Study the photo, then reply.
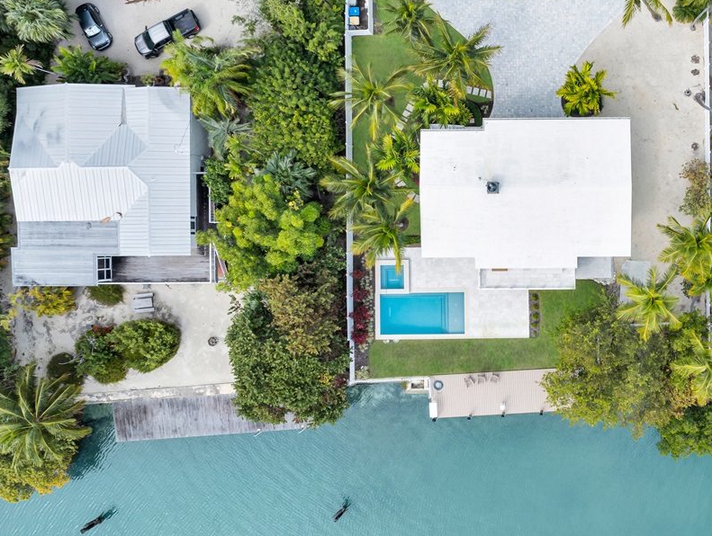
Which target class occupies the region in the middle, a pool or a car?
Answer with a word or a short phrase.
pool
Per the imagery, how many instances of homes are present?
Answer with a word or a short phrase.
2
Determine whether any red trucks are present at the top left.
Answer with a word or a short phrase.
No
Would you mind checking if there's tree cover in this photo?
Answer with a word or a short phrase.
Yes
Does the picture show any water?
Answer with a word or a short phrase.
Yes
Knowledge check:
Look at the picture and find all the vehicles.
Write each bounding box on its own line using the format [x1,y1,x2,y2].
[70,1,112,52]
[132,3,203,58]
